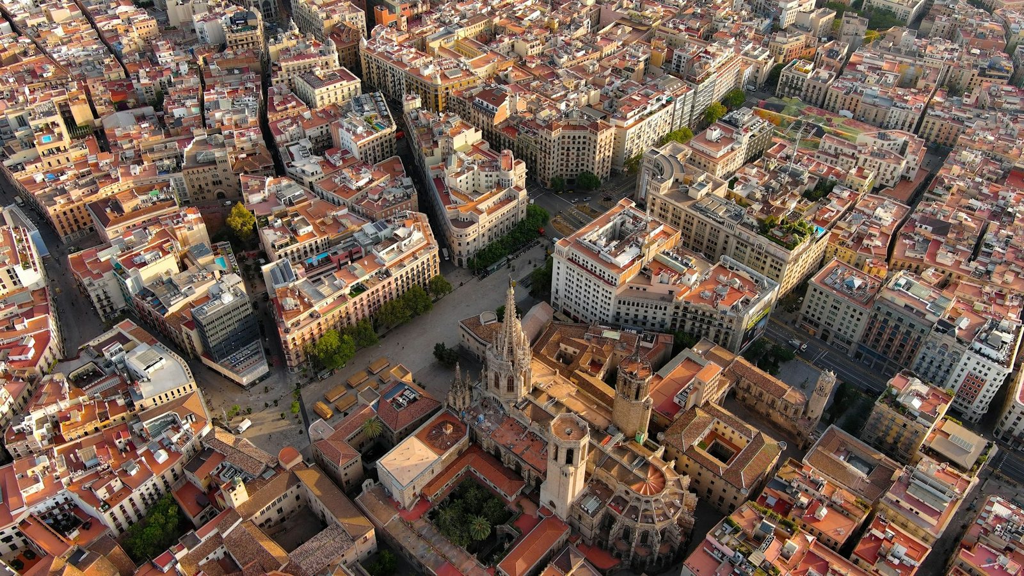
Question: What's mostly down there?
buildings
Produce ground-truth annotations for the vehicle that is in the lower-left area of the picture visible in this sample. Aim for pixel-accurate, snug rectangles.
[234,417,252,431]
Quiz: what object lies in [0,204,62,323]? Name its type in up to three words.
house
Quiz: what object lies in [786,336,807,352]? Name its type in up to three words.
vehicle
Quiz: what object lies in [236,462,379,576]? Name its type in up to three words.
building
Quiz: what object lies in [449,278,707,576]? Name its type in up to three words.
church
